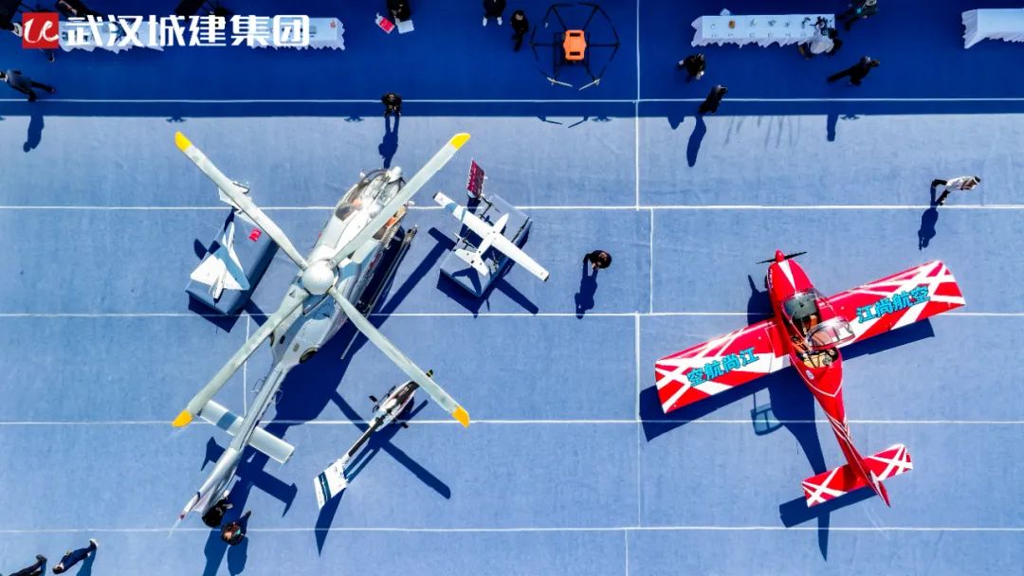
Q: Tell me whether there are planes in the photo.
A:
Yes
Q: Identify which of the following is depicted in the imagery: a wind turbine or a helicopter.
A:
helicopter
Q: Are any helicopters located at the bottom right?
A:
No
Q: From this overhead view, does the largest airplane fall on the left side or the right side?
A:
right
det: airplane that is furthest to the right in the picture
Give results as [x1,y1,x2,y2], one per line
[656,250,965,508]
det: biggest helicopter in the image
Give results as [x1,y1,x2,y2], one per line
[173,134,469,528]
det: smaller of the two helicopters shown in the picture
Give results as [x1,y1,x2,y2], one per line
[335,368,433,464]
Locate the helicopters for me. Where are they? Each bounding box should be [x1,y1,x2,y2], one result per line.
[173,134,469,528]
[335,368,433,464]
